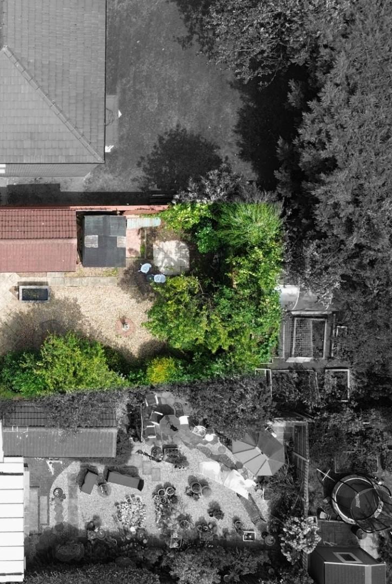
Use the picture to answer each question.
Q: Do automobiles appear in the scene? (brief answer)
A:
No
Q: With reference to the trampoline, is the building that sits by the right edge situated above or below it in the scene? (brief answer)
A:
below it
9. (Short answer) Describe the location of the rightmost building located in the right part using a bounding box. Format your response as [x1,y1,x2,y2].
[307,548,386,584]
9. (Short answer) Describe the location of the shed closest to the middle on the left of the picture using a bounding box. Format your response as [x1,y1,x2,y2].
[82,216,128,266]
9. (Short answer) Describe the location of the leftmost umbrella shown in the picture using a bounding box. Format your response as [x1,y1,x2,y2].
[234,428,286,478]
